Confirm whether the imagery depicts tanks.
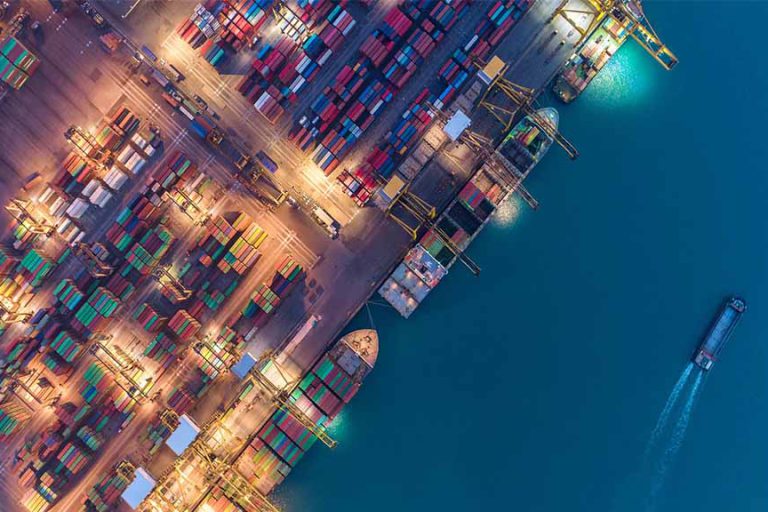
No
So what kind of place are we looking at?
port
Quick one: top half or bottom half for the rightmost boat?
bottom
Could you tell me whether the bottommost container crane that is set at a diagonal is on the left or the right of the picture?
left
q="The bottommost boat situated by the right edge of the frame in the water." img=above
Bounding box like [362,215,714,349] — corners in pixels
[694,298,743,372]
